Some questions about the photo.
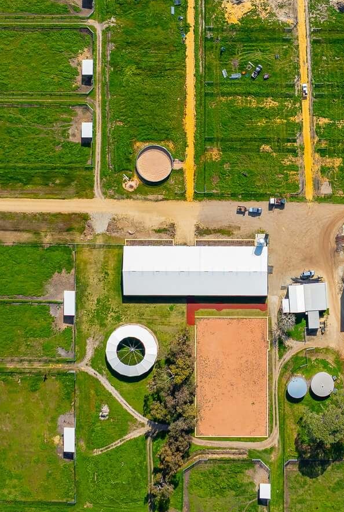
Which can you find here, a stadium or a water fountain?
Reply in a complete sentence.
The one in the frame is a stadium.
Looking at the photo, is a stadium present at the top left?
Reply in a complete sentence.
No, there is no stadium at the top left.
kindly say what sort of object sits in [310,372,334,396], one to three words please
water tank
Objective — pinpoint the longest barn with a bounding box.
[122,246,267,297]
